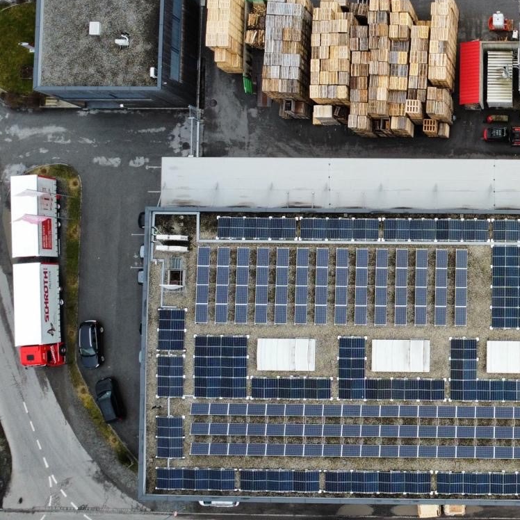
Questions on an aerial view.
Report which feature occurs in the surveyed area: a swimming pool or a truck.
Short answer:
truck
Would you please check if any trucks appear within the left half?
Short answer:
Yes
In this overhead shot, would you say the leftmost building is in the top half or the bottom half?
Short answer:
top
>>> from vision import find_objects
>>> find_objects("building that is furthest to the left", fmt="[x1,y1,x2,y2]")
[35,0,200,109]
